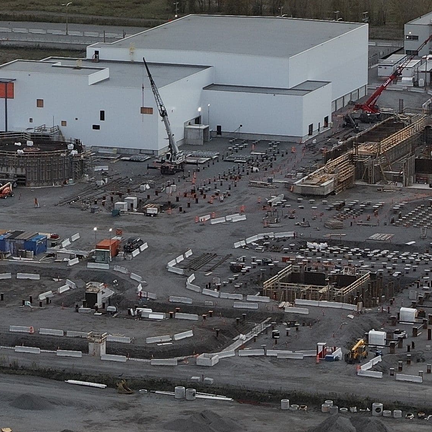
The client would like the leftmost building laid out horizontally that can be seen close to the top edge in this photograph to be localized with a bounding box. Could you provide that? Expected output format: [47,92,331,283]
[0,14,369,156]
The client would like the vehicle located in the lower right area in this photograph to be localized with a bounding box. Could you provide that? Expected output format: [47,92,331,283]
[325,337,374,364]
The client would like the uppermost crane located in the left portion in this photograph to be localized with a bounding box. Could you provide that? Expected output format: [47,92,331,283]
[141,56,201,173]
